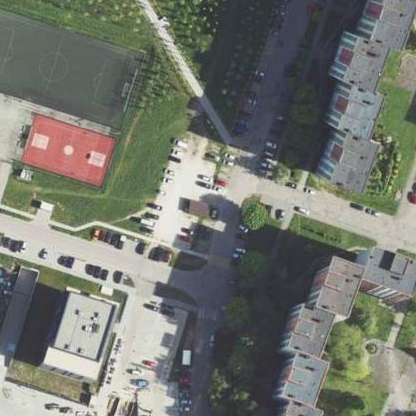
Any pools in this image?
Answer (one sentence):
No, I can see no pool in this picture.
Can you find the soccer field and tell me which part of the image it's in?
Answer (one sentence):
The soccer field is in the top left part of the image.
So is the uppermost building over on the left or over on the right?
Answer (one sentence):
You can find the uppermost building on the right side of the picture.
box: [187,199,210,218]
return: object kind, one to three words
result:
building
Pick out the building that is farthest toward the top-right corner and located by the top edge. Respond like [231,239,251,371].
[354,0,416,56]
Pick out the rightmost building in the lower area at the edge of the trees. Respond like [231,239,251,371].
[353,247,416,300]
